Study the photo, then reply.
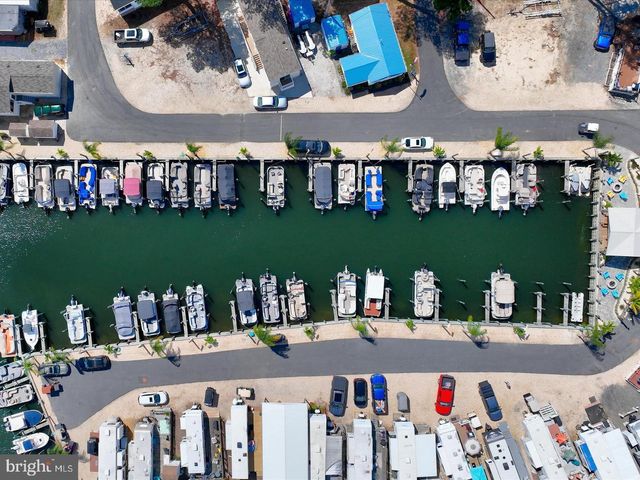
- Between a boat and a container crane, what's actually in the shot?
boat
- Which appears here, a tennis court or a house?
house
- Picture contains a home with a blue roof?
Yes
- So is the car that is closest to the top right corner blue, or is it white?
blue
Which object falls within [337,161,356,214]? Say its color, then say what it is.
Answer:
white boat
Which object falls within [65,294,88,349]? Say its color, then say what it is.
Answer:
white boat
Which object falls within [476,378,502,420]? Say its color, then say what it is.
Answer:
blue truck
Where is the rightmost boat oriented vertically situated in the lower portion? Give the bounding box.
[489,262,515,324]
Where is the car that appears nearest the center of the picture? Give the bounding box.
[298,139,331,155]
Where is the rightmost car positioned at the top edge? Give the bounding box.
[592,15,617,51]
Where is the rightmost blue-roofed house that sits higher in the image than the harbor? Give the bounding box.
[339,3,407,90]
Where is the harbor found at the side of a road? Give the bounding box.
[0,157,601,480]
